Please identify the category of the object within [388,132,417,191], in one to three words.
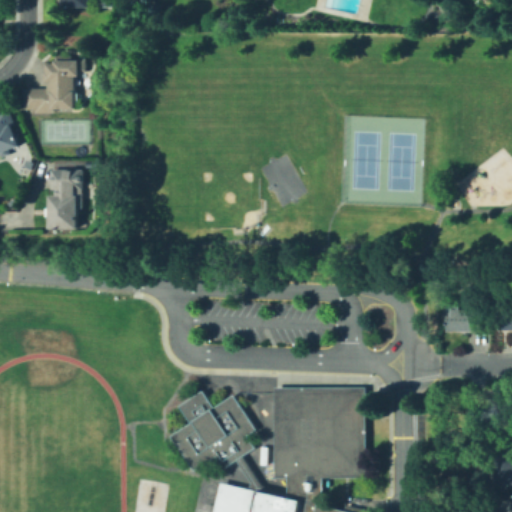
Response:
tennis court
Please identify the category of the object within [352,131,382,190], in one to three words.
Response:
tennis court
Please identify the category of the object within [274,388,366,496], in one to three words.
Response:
building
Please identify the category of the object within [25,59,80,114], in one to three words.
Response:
house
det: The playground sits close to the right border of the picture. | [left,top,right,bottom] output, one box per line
[467,148,512,208]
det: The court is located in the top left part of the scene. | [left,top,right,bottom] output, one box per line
[42,120,92,143]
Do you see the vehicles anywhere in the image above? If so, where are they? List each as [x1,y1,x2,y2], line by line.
[482,334,487,346]
[38,162,45,177]
[475,334,480,346]
[392,342,402,352]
